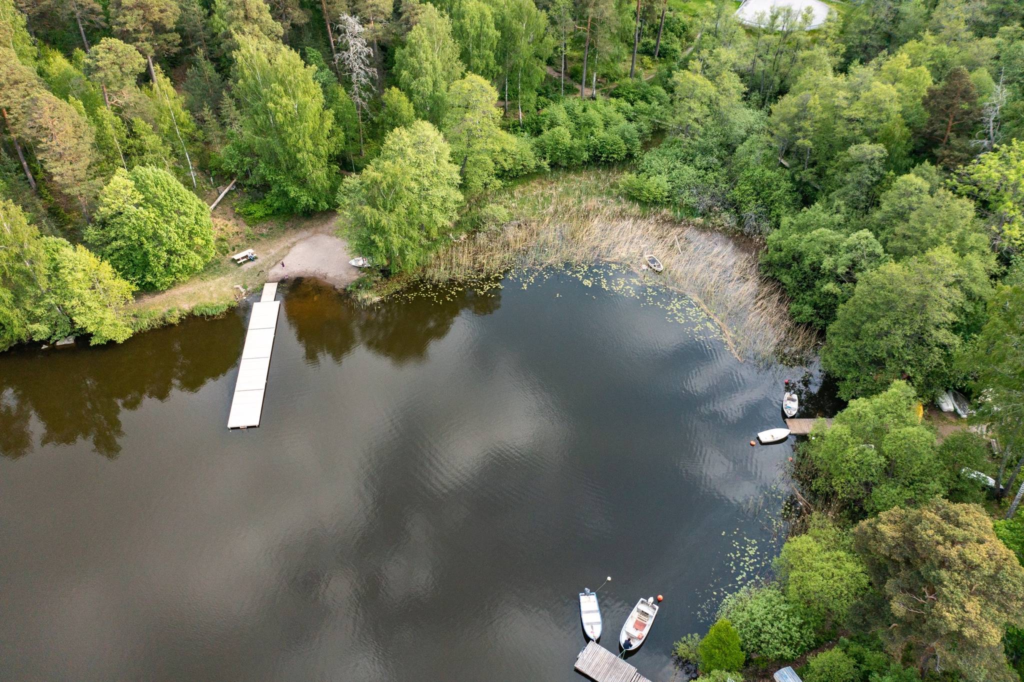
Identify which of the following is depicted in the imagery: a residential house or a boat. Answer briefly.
boat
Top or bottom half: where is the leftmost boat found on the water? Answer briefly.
bottom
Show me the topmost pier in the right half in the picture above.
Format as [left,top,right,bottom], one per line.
[785,410,850,438]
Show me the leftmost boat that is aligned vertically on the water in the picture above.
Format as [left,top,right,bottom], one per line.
[579,583,602,642]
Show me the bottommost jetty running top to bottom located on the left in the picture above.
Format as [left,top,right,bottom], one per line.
[228,301,280,433]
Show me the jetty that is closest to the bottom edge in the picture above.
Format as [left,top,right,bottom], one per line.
[575,641,647,682]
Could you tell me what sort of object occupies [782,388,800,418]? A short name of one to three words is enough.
boat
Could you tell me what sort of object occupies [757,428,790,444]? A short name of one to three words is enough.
boat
